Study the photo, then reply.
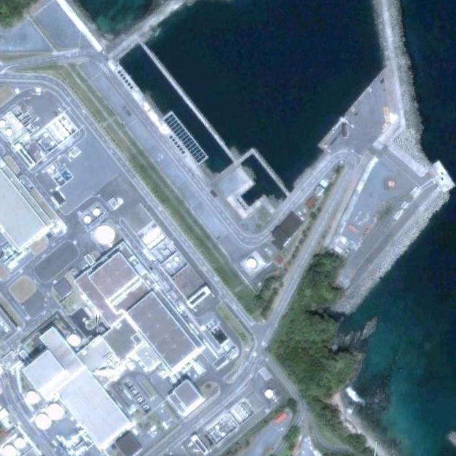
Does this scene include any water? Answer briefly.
Yes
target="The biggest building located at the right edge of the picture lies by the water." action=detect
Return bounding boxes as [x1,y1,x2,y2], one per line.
[432,162,455,194]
